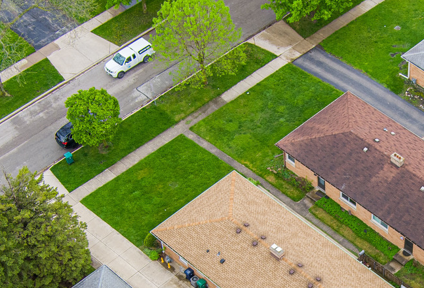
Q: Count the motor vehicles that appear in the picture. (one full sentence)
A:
Altogether the scene contains 2 motor vehicles.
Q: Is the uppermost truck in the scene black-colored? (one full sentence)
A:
No, from above the uppermost truck looks white.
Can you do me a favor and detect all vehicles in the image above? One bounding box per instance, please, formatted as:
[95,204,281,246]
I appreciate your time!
[54,119,81,148]
[100,35,157,79]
